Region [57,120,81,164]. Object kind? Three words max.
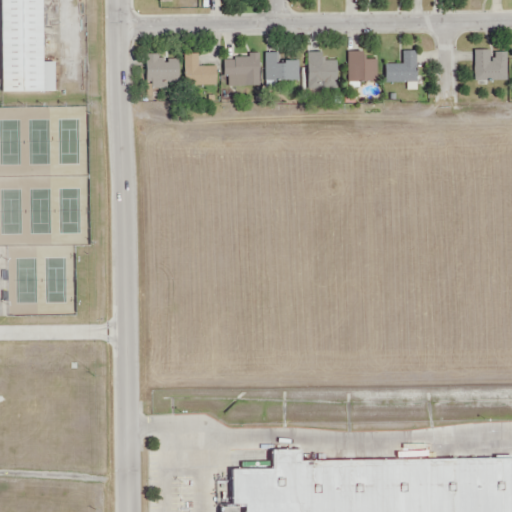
tennis court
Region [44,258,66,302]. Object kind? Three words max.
tennis court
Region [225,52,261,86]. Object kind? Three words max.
house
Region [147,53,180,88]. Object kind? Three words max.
house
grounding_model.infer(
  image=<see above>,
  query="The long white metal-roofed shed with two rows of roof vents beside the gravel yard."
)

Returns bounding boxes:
[2,0,44,90]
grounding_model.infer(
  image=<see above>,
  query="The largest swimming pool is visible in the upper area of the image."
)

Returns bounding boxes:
[358,81,381,98]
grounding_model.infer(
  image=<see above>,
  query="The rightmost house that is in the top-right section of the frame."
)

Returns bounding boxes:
[475,48,509,84]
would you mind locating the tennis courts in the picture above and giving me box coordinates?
[30,120,50,164]
[0,120,20,164]
[44,258,66,302]
[16,258,37,302]
[57,120,81,164]
[1,190,21,234]
[60,190,80,234]
[28,190,52,234]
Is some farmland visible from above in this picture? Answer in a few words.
Yes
